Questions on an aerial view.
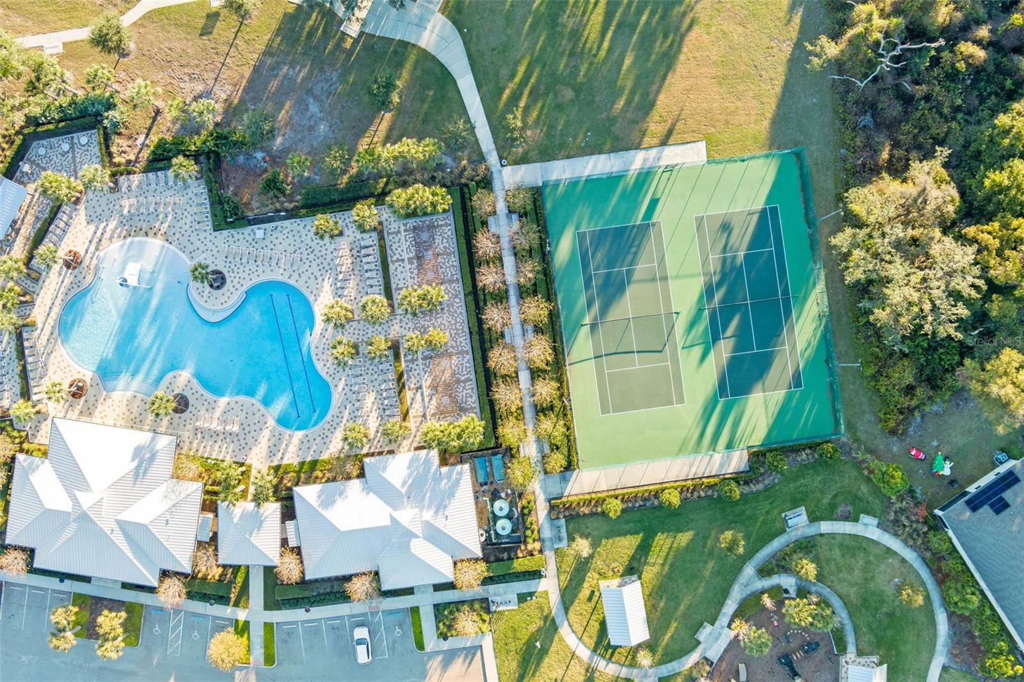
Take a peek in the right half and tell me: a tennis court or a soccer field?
tennis court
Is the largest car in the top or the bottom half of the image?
bottom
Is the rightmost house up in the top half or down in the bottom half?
bottom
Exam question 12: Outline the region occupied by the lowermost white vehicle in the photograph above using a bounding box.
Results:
[352,627,372,664]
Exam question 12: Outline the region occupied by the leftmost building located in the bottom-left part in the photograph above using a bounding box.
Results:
[5,417,207,587]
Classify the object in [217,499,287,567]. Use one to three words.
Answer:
building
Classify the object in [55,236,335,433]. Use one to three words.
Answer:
swimming pool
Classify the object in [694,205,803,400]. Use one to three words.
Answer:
tennis court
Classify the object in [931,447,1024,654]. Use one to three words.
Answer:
house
